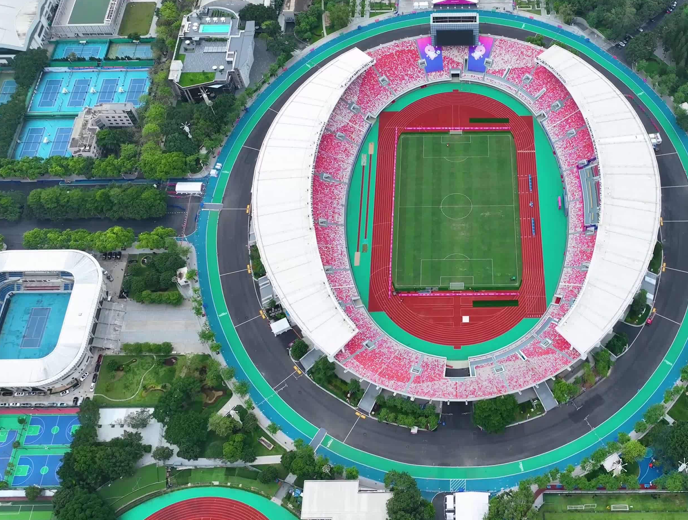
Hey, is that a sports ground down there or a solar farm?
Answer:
sports ground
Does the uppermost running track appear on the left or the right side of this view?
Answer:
right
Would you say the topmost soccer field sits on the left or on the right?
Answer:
right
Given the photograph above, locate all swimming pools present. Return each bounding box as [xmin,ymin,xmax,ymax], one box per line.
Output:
[199,25,229,32]
[52,0,122,33]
